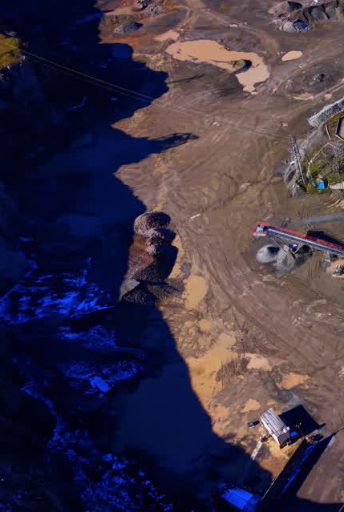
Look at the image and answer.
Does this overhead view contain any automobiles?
No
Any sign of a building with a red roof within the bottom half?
No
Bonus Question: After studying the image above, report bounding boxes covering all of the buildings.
[219,480,262,512]
[260,408,297,449]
